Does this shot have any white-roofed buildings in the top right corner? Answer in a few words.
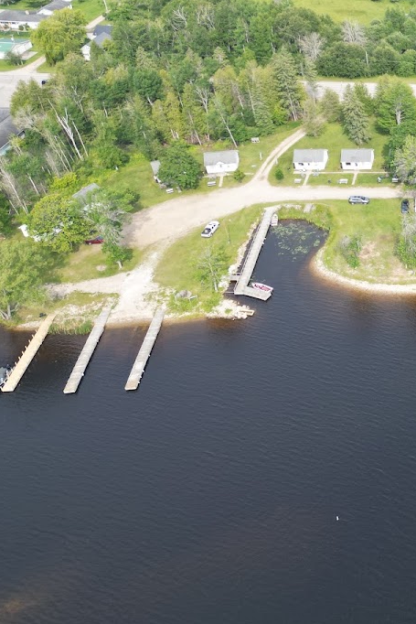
Yes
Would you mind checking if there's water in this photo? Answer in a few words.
Yes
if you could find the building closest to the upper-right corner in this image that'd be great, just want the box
[339,145,378,172]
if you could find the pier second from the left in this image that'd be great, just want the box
[64,316,109,393]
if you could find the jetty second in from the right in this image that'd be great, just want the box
[125,315,165,391]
